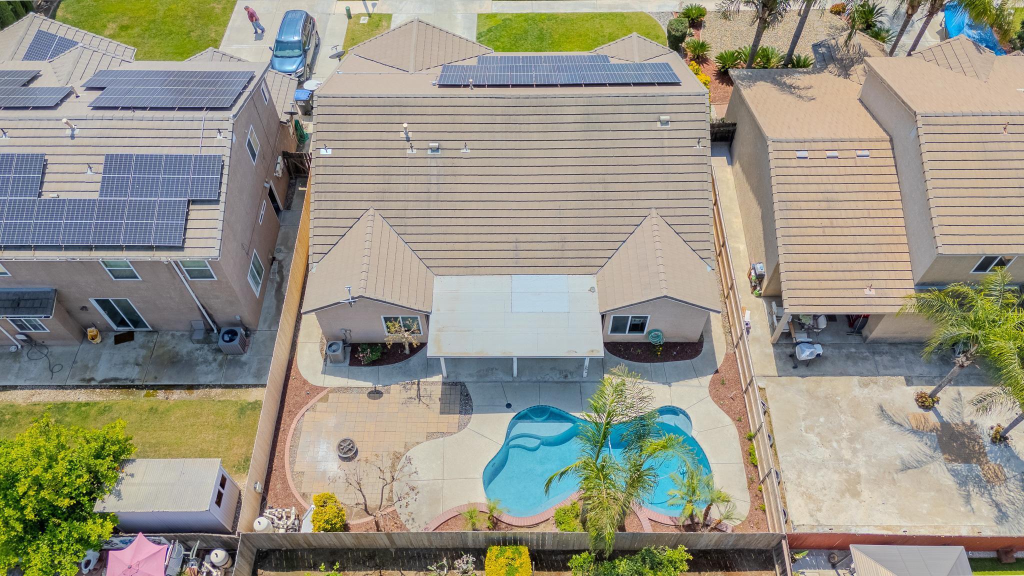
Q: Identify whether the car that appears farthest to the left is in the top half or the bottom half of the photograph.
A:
top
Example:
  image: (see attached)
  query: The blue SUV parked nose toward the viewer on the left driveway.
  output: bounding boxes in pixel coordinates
[271,15,319,85]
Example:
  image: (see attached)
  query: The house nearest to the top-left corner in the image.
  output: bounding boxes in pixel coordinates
[0,10,304,349]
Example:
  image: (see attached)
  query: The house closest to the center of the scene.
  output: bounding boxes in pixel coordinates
[300,17,724,378]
